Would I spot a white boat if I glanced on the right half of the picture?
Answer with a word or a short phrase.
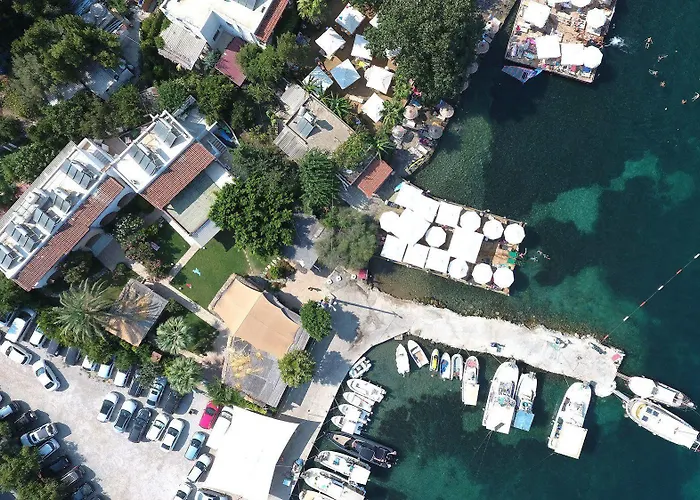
Yes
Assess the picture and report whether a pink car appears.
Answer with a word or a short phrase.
Yes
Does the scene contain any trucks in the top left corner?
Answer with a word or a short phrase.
No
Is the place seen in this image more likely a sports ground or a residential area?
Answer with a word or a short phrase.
residential area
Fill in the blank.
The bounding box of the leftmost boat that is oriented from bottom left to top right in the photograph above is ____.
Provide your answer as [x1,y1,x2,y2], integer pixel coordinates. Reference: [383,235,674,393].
[349,354,374,377]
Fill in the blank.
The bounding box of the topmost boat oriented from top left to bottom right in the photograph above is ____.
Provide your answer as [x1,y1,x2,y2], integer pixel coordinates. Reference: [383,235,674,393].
[409,341,429,370]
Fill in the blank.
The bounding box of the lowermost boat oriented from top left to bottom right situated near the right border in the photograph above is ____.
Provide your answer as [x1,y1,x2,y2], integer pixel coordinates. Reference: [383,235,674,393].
[621,395,700,458]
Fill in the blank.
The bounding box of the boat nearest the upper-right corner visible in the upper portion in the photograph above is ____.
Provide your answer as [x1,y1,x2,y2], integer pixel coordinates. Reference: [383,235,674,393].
[411,155,432,170]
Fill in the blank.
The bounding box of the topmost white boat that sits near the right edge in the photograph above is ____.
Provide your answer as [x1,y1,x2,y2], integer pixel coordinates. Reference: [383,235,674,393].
[622,374,700,410]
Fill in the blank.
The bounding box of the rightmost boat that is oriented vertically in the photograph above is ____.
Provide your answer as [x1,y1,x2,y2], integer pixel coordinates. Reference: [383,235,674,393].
[544,380,588,460]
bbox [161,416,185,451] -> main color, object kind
white car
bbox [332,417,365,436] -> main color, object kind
white boat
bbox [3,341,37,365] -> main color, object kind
white car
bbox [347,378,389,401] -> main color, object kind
white boat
